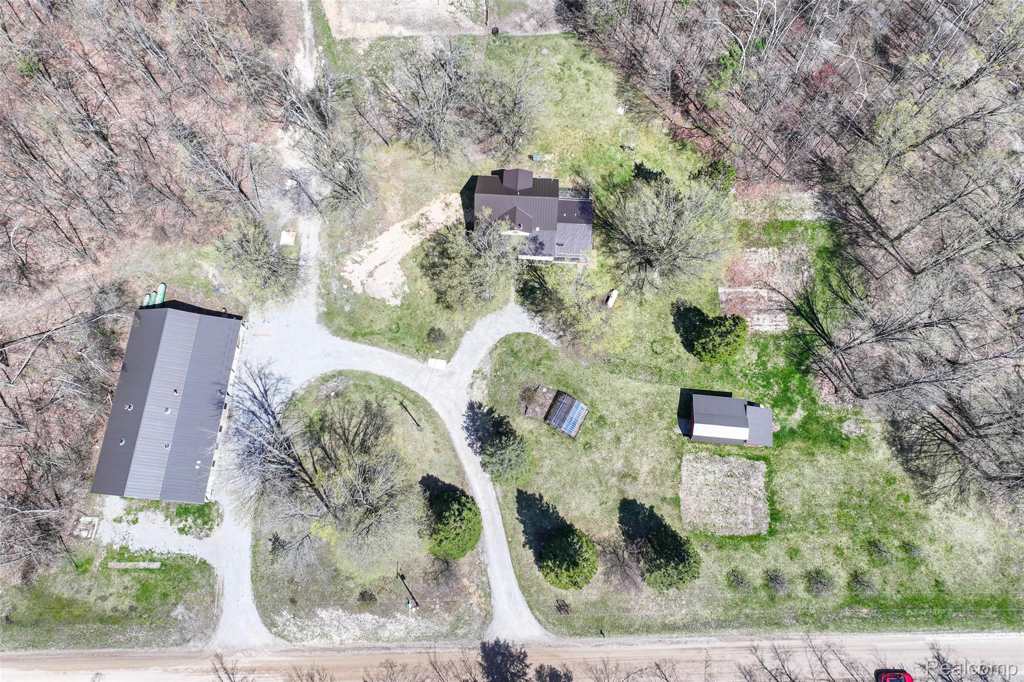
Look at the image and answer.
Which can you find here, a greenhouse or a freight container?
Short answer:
greenhouse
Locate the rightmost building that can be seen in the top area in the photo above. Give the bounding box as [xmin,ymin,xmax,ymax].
[473,164,592,272]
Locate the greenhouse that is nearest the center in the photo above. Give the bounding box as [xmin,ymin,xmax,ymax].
[543,391,592,439]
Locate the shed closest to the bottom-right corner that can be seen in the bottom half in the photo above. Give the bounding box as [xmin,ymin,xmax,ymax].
[679,397,769,448]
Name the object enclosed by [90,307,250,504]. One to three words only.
barn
